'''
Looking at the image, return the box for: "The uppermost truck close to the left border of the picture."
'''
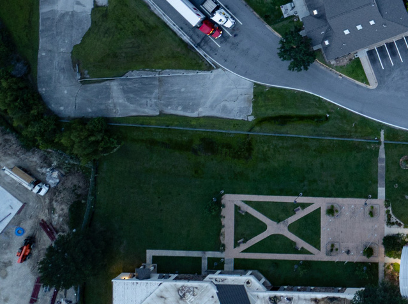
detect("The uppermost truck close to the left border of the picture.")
[0,165,49,194]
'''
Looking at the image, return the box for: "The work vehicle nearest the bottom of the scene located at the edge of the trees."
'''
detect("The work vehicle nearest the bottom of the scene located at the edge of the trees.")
[13,239,34,267]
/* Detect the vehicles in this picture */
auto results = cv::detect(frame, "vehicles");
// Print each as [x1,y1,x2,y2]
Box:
[166,0,225,39]
[197,0,237,29]
[13,239,34,267]
[0,165,49,194]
